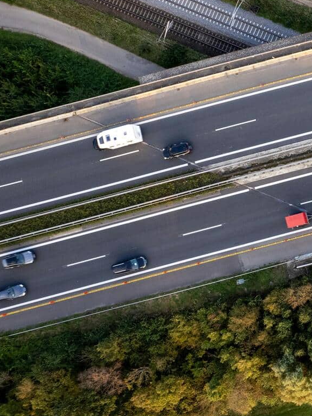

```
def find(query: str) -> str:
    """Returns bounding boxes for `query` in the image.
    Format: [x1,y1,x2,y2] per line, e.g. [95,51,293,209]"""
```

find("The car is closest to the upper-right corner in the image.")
[163,141,194,159]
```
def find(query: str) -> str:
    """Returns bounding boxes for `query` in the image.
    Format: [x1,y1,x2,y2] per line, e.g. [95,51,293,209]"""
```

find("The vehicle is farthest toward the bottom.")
[0,283,28,302]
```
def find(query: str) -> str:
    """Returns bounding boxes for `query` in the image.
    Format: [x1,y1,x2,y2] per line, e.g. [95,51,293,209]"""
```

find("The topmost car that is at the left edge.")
[2,249,37,269]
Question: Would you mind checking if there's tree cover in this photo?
Yes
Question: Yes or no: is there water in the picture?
No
